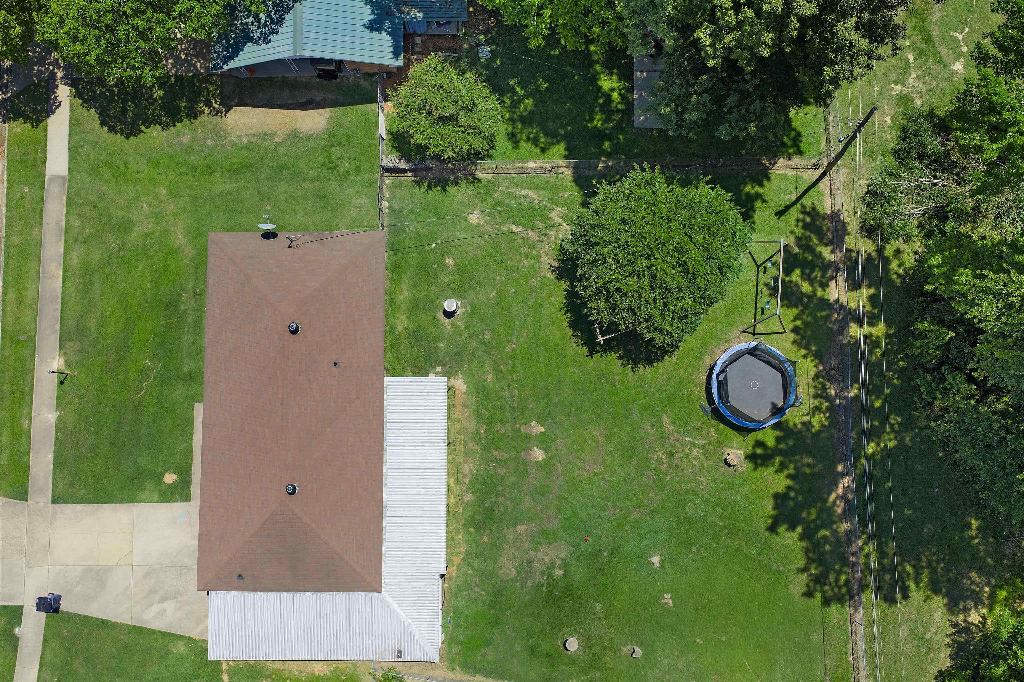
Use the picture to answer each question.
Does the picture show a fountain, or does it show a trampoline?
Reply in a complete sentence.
This aerial view contains a trampoline.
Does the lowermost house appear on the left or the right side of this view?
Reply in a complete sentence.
You can find the lowermost house on the left side of the picture.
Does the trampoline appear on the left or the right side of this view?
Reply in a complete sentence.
The trampoline appears in the right half of the scene.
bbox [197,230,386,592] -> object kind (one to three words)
house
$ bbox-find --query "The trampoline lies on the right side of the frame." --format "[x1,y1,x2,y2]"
[709,335,805,435]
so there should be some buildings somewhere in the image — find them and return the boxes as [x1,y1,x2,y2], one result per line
[203,0,405,74]
[197,230,386,592]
